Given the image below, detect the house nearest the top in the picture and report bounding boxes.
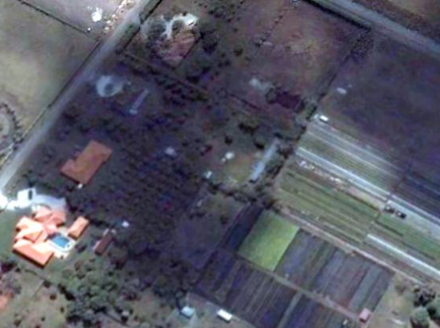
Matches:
[166,31,197,64]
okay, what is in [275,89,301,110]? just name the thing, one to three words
house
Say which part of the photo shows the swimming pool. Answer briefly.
bottom left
